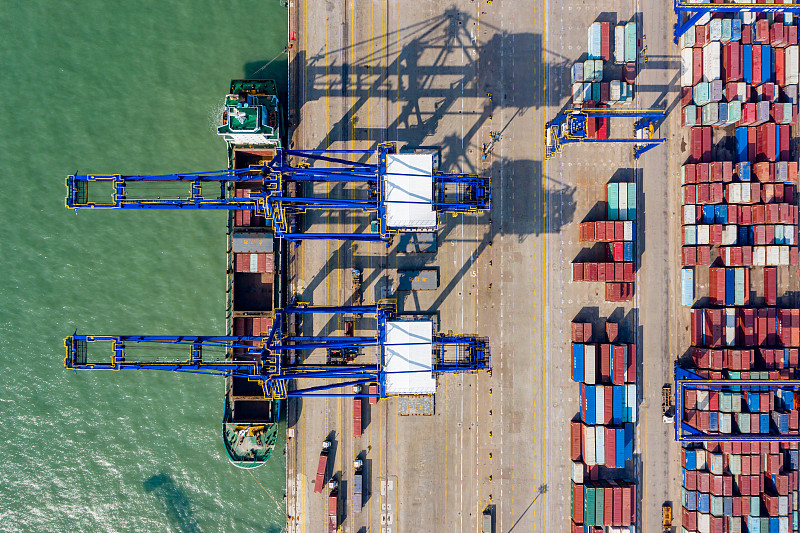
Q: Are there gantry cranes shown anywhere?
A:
Yes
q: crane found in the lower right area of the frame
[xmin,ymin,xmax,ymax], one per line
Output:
[673,360,800,439]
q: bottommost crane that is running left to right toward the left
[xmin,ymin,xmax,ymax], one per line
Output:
[65,290,489,406]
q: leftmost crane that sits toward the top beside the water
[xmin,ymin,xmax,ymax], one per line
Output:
[65,139,489,253]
